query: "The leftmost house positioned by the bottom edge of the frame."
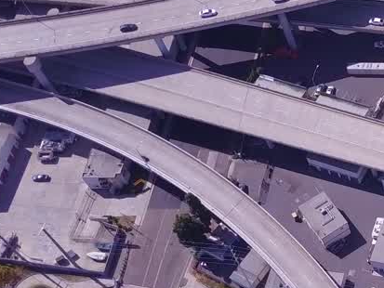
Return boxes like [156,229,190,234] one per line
[200,239,249,282]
